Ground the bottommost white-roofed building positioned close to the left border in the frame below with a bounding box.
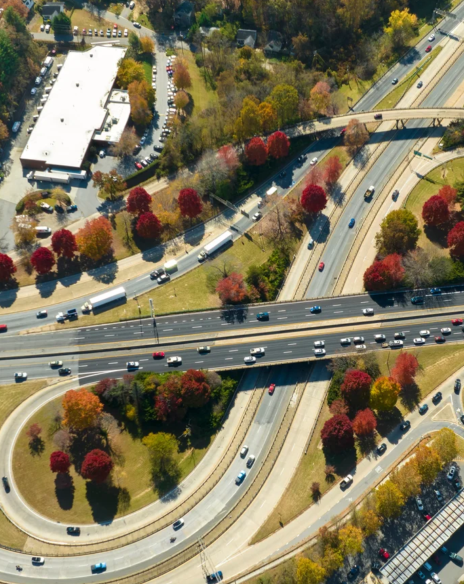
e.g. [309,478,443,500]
[20,46,131,171]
